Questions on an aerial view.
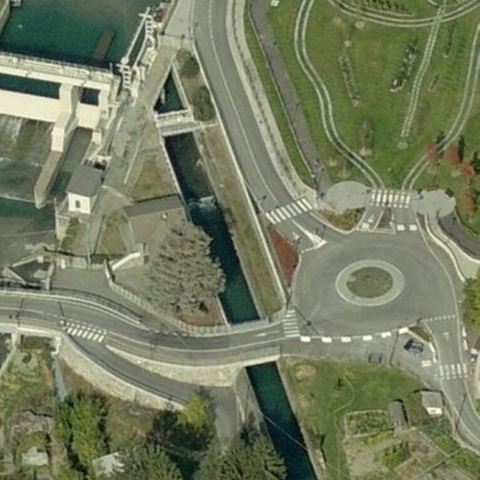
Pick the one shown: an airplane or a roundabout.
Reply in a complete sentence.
This aerial view contains a roundabout.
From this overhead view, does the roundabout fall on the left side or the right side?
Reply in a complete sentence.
The roundabout is on the right side of the image.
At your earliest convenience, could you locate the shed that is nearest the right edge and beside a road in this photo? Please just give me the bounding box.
[420,390,444,420]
